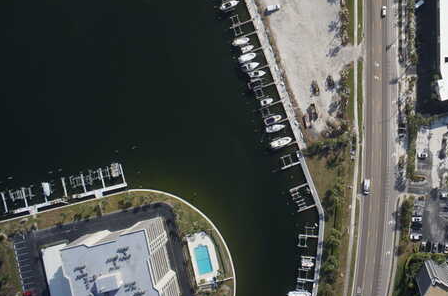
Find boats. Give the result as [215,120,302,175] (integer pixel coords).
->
[260,98,274,106]
[232,36,251,46]
[301,260,313,267]
[265,124,286,133]
[220,1,239,11]
[42,182,50,197]
[238,53,257,62]
[264,115,282,126]
[241,62,260,70]
[270,137,293,149]
[241,46,255,53]
[248,69,267,77]
[110,163,119,178]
